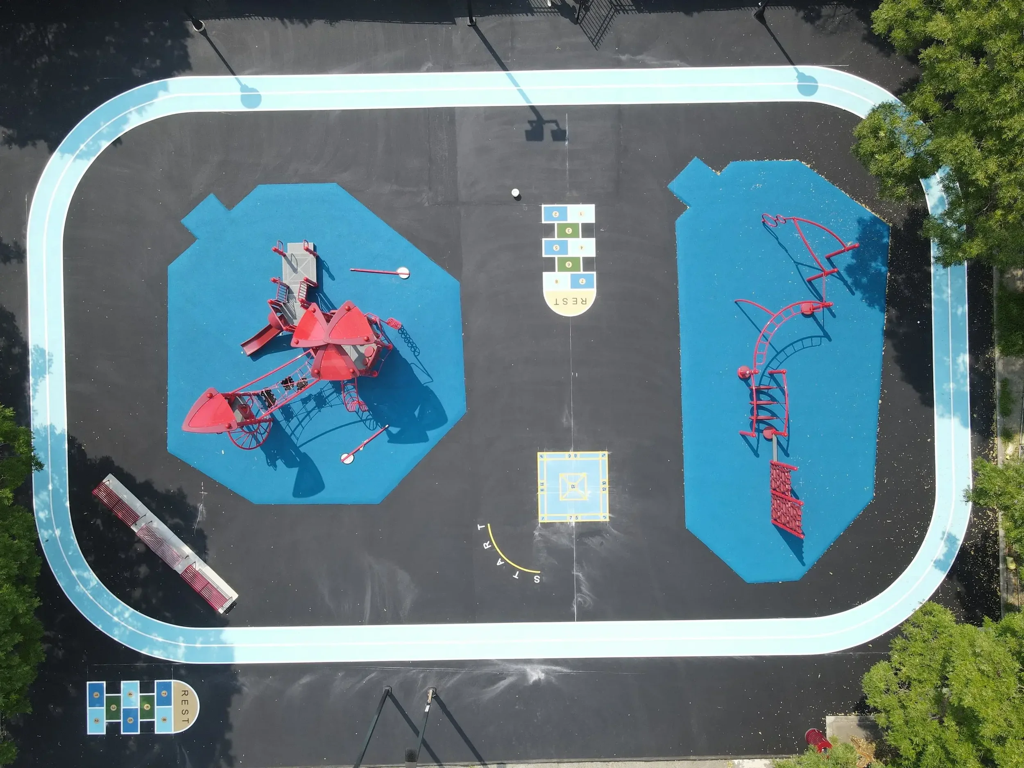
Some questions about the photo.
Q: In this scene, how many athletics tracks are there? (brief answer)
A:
one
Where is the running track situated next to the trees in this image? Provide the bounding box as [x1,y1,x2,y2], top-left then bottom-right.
[27,66,973,664]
